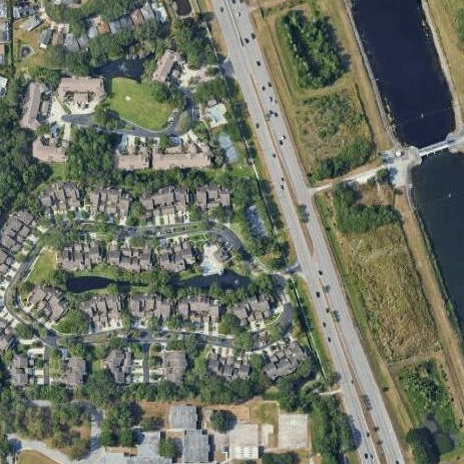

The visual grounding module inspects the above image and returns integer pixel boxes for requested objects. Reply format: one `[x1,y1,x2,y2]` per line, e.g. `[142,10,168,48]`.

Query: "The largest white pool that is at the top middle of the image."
[202,102,231,128]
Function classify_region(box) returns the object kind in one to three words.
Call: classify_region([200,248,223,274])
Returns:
swimming pool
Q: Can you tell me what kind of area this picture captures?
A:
residential area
